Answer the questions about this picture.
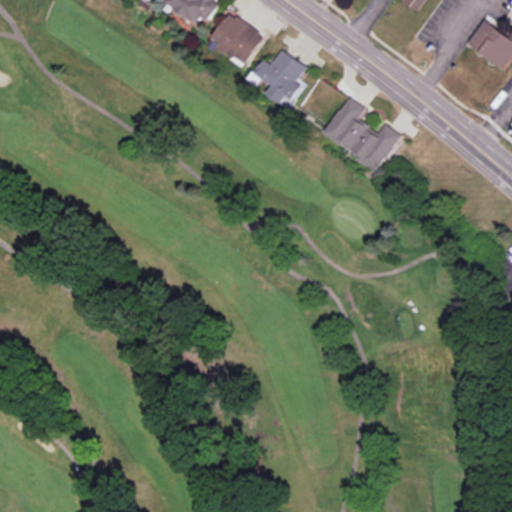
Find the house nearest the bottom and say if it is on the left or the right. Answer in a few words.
right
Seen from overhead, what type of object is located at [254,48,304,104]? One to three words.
house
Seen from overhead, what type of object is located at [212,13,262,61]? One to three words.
house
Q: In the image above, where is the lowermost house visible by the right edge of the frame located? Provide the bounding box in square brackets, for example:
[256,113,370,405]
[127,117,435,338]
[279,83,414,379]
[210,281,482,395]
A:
[468,17,512,73]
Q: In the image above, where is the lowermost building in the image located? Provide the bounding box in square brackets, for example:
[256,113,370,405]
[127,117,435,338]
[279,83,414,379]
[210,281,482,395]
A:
[324,97,401,170]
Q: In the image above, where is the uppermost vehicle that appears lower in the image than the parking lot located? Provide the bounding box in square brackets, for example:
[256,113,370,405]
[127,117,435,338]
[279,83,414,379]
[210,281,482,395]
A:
[491,89,509,110]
